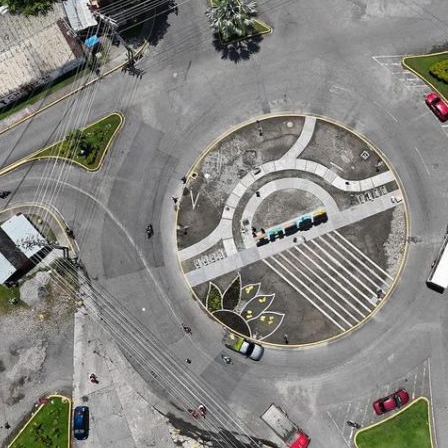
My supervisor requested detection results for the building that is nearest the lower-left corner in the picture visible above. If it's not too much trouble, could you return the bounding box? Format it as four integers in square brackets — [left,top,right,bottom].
[0,214,58,284]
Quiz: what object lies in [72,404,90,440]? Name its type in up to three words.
car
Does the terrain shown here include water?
No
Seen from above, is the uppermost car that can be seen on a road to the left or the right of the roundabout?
to the right of it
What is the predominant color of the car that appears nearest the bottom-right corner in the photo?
red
